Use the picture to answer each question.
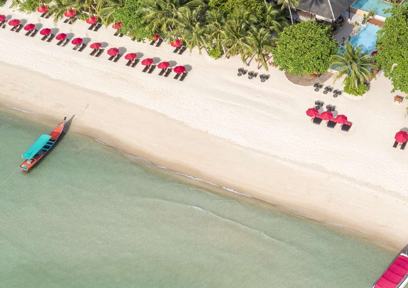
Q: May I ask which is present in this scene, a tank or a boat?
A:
boat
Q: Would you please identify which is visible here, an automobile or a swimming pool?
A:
swimming pool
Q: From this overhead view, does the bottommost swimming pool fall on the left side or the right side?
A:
right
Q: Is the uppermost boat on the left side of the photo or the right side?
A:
left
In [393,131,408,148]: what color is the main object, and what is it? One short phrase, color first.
red umbrella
